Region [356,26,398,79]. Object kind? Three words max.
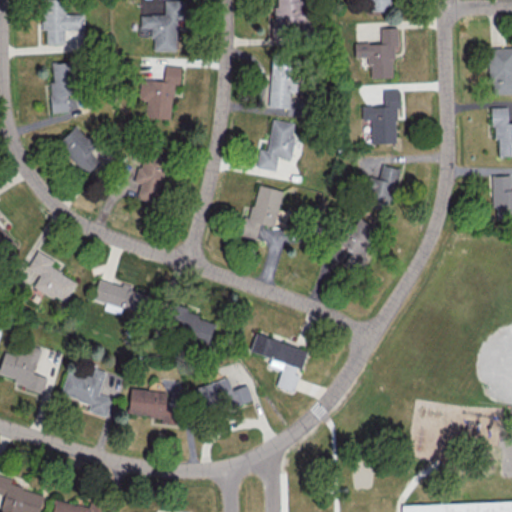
house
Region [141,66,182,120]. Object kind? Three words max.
house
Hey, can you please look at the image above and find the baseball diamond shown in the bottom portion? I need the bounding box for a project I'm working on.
[476,324,512,405]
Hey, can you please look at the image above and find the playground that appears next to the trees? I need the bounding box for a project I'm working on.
[411,400,504,464]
